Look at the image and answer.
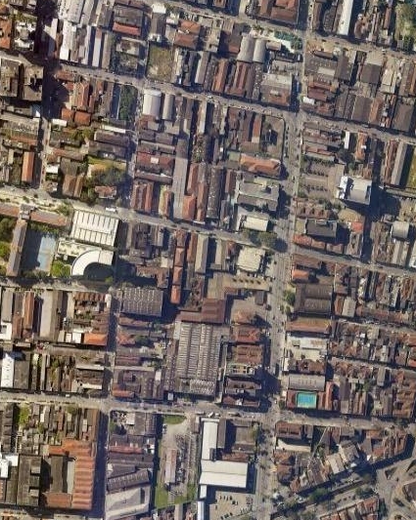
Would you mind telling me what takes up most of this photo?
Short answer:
buildings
